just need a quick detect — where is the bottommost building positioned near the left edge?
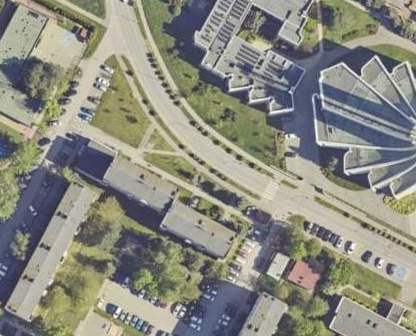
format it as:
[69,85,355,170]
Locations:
[5,181,99,325]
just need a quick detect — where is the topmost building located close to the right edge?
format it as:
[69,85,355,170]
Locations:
[312,56,416,205]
